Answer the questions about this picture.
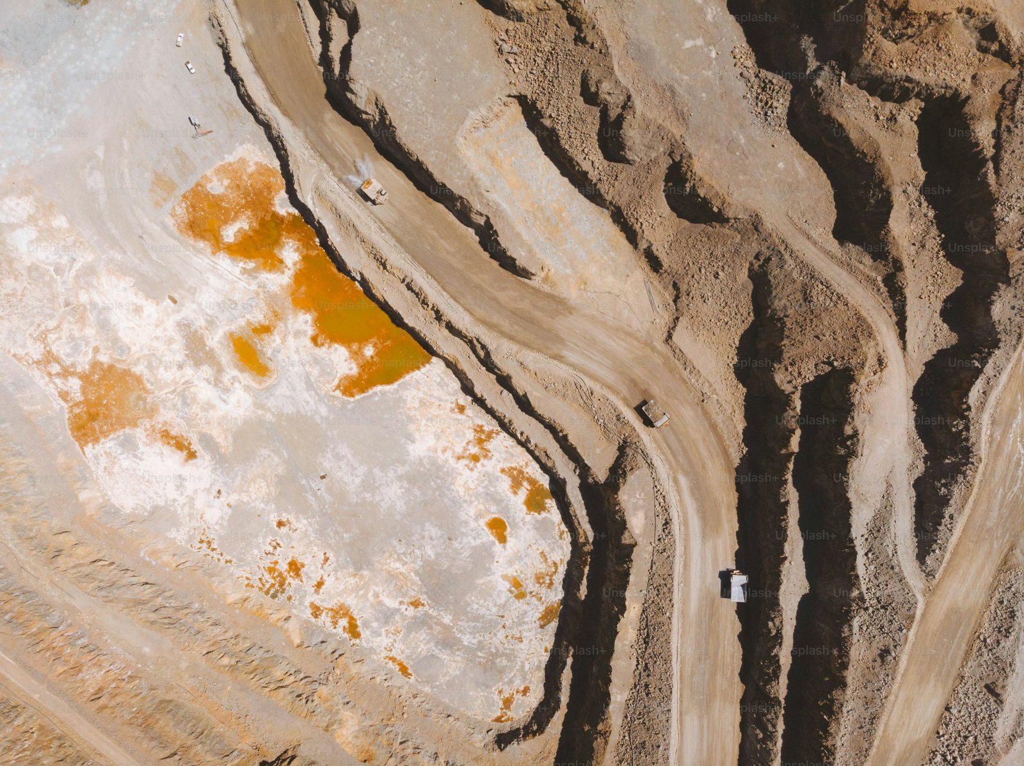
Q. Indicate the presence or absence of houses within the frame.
No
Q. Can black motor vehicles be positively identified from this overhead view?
No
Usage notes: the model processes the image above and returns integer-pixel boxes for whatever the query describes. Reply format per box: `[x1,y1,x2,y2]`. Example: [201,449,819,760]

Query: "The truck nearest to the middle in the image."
[643,399,670,429]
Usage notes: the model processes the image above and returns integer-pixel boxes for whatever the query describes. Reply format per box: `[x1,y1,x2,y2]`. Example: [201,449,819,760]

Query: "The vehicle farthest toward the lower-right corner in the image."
[726,570,745,600]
